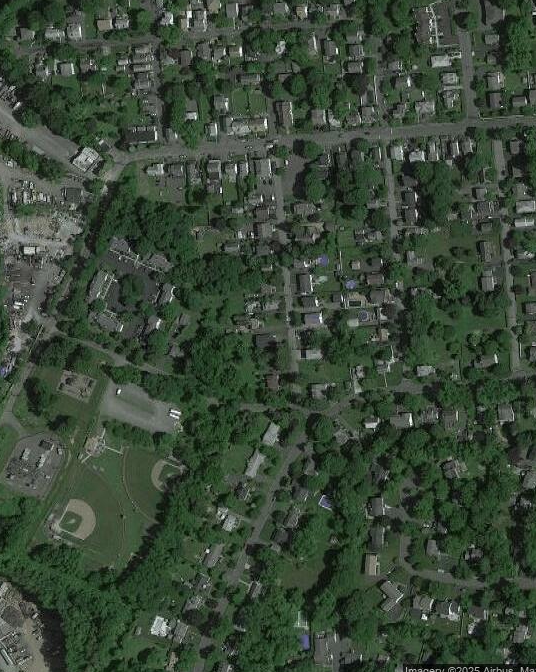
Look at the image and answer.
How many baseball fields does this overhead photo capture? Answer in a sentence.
In total, 2 baseball fields can be seen.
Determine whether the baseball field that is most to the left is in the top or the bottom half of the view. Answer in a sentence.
Seen from above, the baseball field that is most to the left lies in the bottom half of the view.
